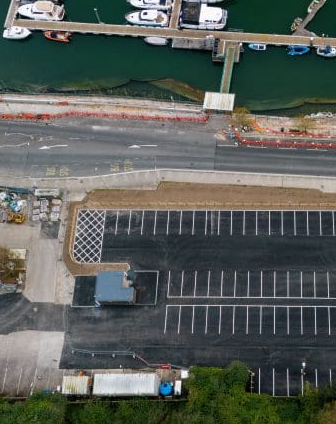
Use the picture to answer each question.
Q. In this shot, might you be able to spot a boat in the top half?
Yes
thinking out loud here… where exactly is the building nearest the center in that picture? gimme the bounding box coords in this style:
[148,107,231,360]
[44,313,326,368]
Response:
[95,271,137,301]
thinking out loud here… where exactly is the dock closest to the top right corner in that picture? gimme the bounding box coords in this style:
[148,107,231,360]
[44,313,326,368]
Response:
[292,0,326,37]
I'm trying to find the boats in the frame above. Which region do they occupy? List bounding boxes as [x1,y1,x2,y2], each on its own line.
[15,1,67,21]
[143,35,167,43]
[0,27,32,39]
[315,46,336,57]
[128,0,172,9]
[287,45,311,56]
[43,31,72,43]
[248,43,267,51]
[181,1,228,28]
[308,0,320,13]
[292,16,304,31]
[123,9,170,26]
